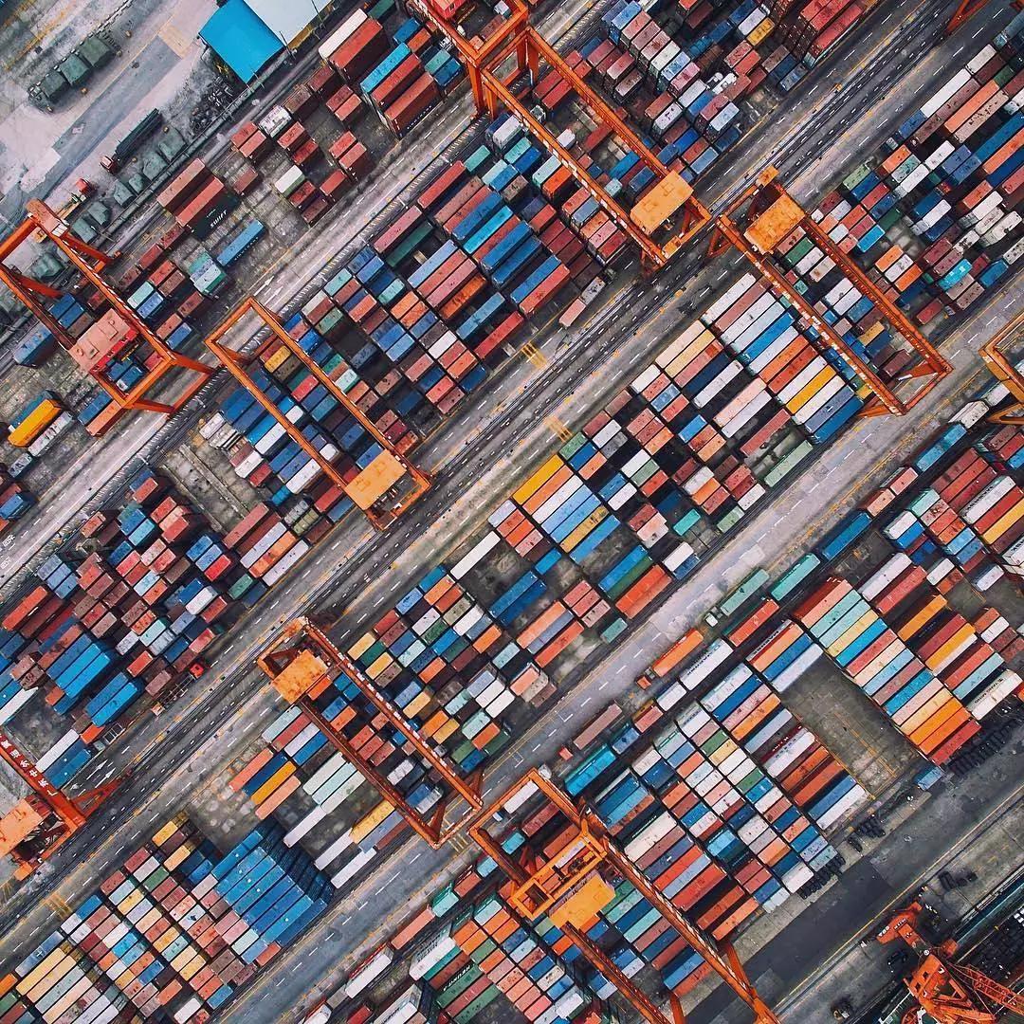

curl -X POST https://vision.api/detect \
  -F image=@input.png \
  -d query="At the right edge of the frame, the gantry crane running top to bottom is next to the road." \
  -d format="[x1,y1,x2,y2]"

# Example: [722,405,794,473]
[971,305,1024,433]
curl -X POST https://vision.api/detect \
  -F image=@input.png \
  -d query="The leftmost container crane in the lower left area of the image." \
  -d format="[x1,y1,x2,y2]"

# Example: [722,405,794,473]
[0,706,135,884]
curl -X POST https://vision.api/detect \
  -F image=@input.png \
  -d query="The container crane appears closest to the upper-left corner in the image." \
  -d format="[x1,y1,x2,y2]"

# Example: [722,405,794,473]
[0,193,221,417]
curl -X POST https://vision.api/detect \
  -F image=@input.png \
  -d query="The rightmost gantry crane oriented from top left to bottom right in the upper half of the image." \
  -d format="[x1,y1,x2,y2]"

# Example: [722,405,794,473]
[695,171,956,423]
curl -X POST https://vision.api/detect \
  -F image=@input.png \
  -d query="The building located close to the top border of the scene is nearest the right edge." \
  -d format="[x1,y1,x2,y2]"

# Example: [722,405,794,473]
[245,0,346,52]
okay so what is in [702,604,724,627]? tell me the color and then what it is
white truck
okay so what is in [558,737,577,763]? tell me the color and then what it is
red vehicle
